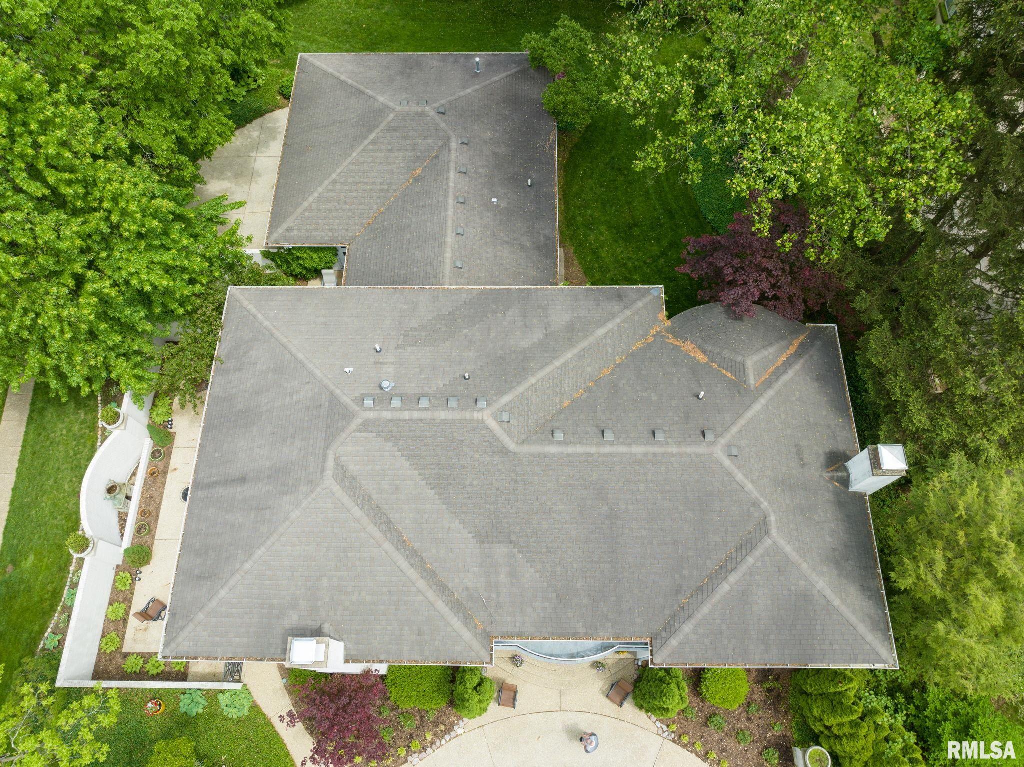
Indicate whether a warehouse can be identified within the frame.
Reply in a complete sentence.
No, no warehouse can be seen from above.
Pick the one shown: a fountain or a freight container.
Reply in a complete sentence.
The image shows a fountain.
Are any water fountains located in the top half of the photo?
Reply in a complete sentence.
No, I see no water fountain in the top half of the photo.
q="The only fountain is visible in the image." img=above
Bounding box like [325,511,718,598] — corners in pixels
[105,480,134,511]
